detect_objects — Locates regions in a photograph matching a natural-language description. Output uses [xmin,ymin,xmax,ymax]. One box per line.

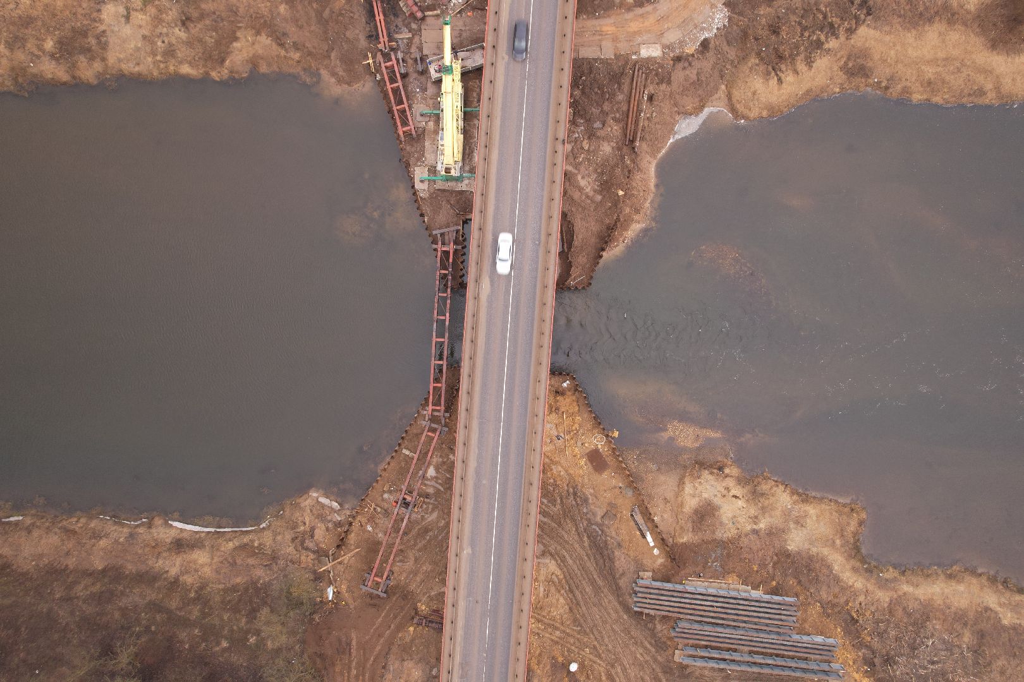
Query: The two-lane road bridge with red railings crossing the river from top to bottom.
[439,0,577,682]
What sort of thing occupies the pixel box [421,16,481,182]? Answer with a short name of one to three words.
truck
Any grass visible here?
Yes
